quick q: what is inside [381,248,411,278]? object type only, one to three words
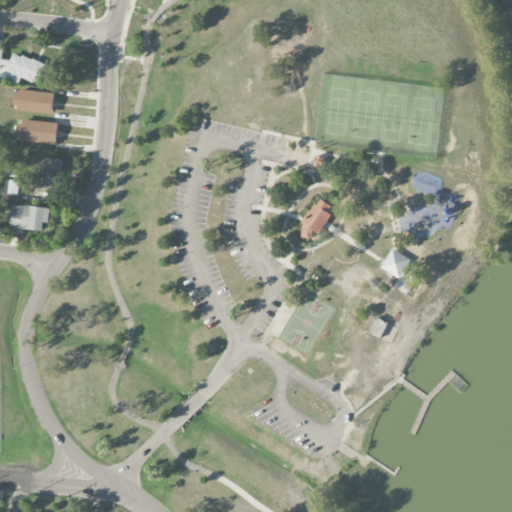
building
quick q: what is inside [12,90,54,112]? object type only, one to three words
house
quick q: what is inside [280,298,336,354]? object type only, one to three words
basketball court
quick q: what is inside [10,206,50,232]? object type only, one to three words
house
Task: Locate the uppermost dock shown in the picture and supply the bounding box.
[403,370,456,434]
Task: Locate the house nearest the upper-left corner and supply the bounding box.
[0,53,44,85]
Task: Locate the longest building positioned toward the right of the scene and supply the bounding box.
[300,200,332,240]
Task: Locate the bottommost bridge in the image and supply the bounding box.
[170,384,216,428]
